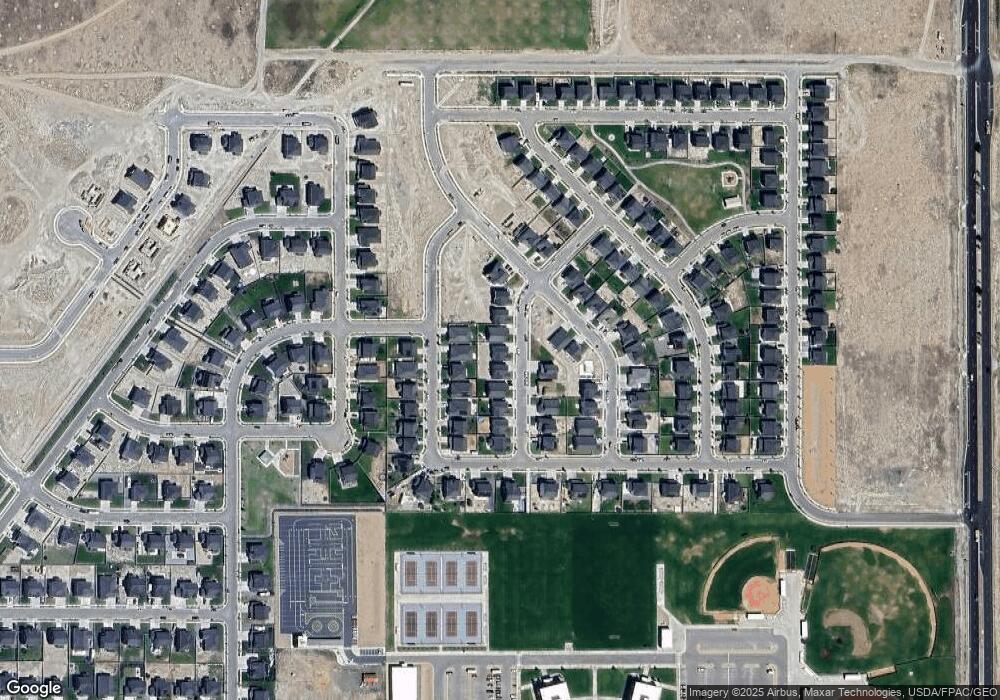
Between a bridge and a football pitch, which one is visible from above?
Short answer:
football pitch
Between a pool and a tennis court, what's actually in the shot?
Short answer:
tennis court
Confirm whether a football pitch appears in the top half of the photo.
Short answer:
No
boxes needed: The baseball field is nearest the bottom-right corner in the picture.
[807,544,934,673]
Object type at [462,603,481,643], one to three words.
tennis court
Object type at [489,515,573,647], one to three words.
sports field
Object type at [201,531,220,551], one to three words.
house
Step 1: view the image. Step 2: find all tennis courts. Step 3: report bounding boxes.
[421,603,441,643]
[441,554,462,594]
[400,554,421,594]
[442,603,462,643]
[462,554,481,594]
[462,603,481,643]
[400,603,421,643]
[421,554,441,594]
